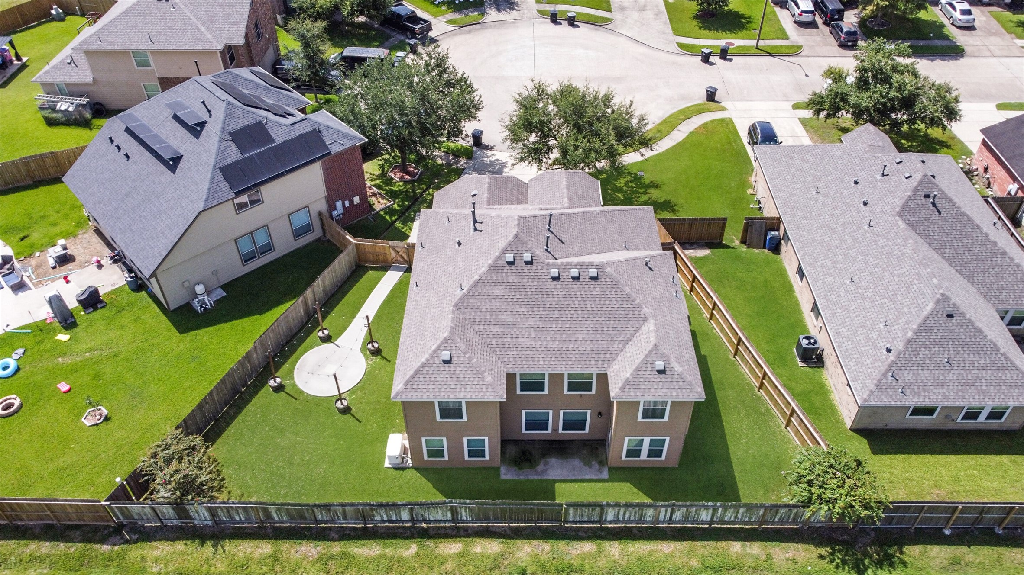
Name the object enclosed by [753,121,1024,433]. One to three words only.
house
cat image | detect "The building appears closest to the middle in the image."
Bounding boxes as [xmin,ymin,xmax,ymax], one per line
[388,170,708,468]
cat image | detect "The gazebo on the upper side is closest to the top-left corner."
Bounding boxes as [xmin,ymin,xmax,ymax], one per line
[0,37,29,82]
